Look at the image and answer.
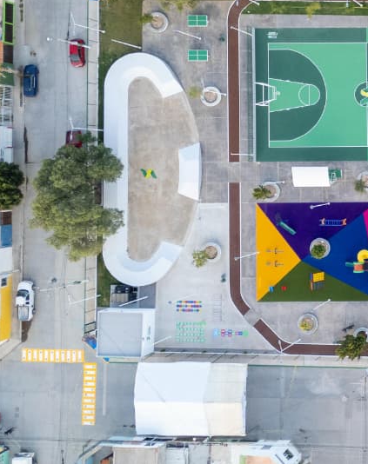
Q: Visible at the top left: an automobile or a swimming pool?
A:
automobile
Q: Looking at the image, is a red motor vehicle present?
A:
Yes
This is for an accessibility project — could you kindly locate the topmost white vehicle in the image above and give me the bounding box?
[15,280,36,322]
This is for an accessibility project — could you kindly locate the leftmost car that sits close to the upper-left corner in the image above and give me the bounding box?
[21,64,40,98]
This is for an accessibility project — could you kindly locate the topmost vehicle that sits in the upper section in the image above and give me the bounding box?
[69,38,87,68]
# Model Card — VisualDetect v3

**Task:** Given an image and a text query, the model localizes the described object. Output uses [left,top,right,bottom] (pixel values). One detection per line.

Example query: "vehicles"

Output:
[66,126,84,152]
[11,452,37,464]
[69,38,87,68]
[15,280,36,322]
[21,64,40,98]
